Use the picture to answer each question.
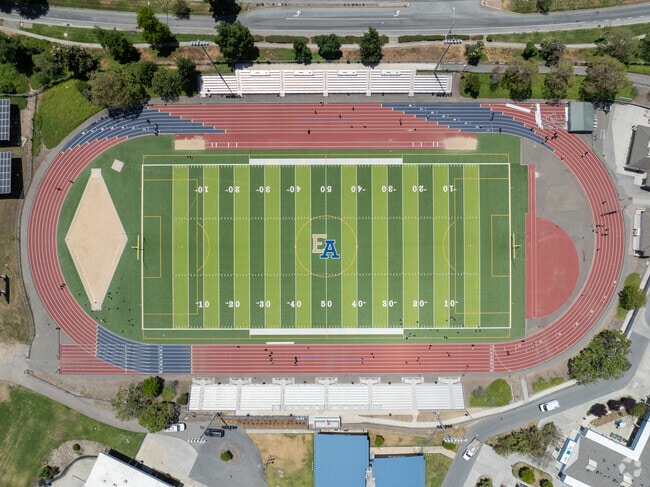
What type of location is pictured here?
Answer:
sports ground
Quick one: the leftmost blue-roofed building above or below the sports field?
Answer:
below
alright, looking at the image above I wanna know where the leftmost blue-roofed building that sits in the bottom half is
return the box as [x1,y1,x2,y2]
[314,431,368,487]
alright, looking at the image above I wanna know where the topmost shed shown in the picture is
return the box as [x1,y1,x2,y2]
[564,102,592,133]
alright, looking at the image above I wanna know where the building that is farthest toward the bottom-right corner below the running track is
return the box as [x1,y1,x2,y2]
[555,410,650,487]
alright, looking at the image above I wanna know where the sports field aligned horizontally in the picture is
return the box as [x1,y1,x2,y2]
[58,133,527,344]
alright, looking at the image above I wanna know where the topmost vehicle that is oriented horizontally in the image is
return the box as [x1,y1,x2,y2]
[539,401,563,413]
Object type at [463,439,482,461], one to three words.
vehicle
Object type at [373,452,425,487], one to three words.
building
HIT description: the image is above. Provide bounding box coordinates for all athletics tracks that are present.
[28,103,625,373]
